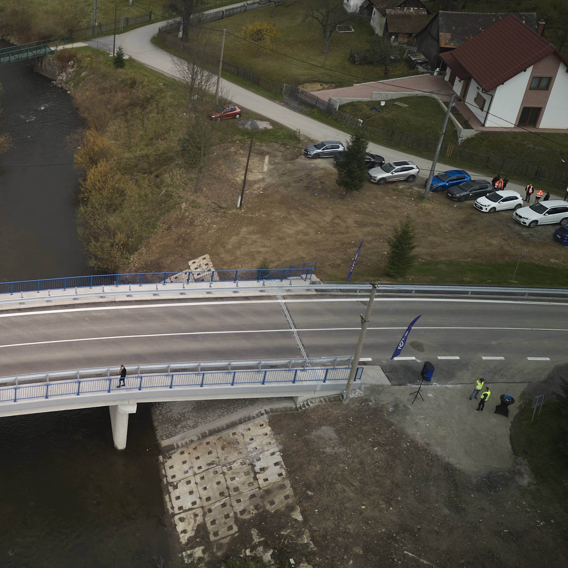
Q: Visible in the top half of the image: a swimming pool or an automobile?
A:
automobile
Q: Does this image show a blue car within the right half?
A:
Yes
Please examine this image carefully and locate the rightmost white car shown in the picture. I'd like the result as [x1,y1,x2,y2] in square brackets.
[513,199,568,228]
